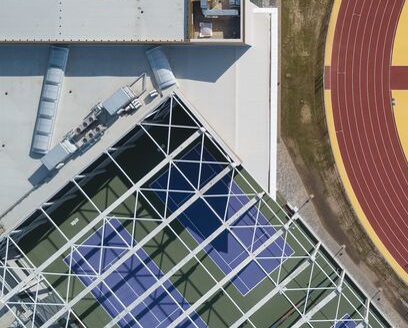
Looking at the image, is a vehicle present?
No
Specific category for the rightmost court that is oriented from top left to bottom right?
tennis court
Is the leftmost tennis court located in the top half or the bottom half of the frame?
bottom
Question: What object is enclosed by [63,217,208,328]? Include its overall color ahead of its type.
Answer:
blue tennis court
